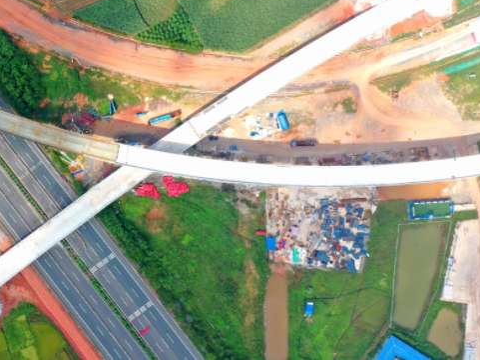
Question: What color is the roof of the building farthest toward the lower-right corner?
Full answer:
From above, the roof of the building farthest toward the lower-right corner looks blue.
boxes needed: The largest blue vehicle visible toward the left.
[150,110,182,124]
